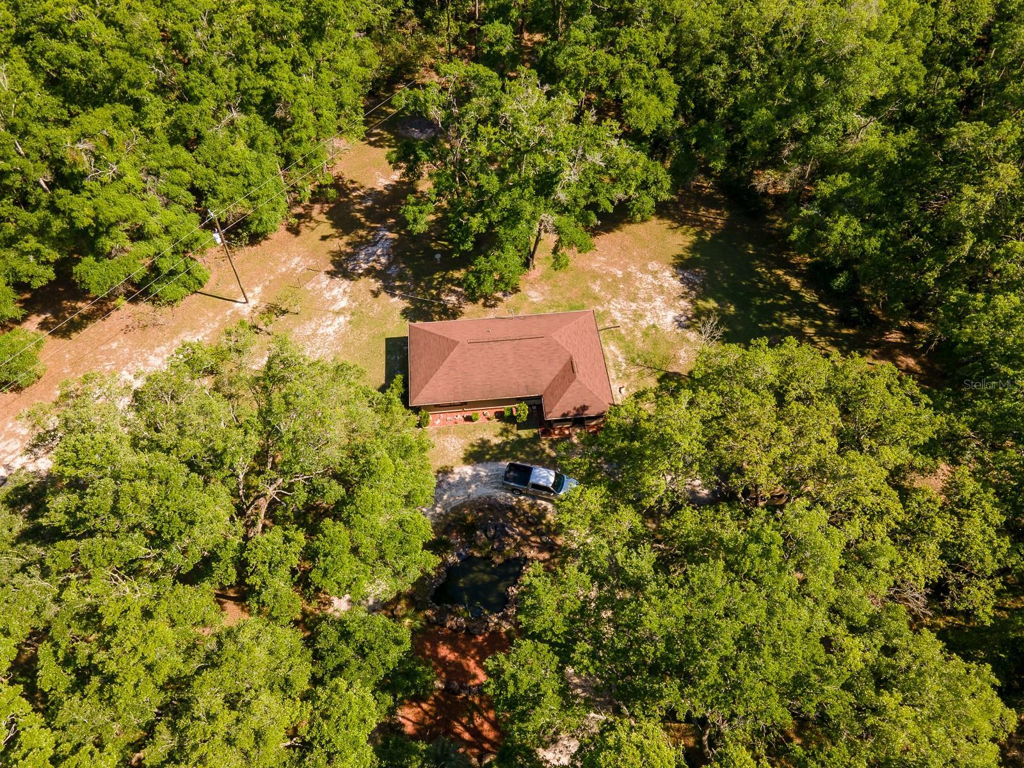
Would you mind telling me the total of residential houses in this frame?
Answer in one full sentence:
The count comes to 1 residential house.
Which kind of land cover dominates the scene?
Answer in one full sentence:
The largest share of the image is taken up by trees.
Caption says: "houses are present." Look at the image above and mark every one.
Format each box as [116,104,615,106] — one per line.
[408,301,615,425]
